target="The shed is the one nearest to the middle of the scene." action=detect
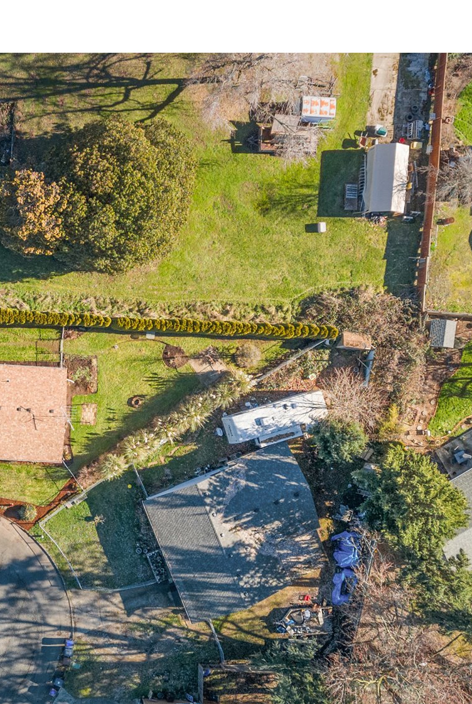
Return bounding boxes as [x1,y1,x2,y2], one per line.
[332,332,372,350]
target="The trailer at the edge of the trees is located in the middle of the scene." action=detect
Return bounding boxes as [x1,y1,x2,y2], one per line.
[210,392,333,449]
